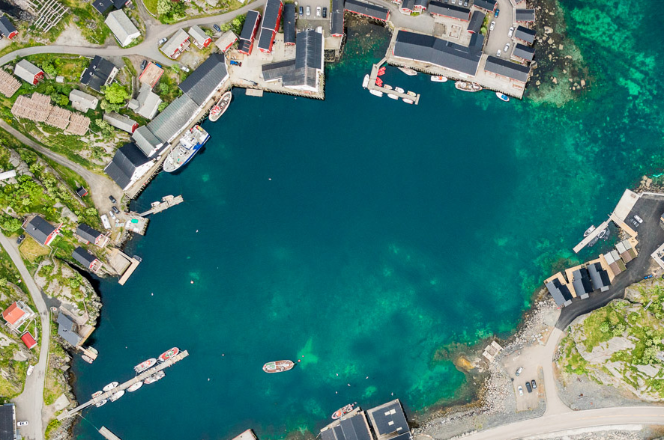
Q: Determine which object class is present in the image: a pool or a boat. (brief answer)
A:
boat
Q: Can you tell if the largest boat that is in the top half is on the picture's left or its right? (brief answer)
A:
left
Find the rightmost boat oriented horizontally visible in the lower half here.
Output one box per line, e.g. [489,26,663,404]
[262,360,294,374]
